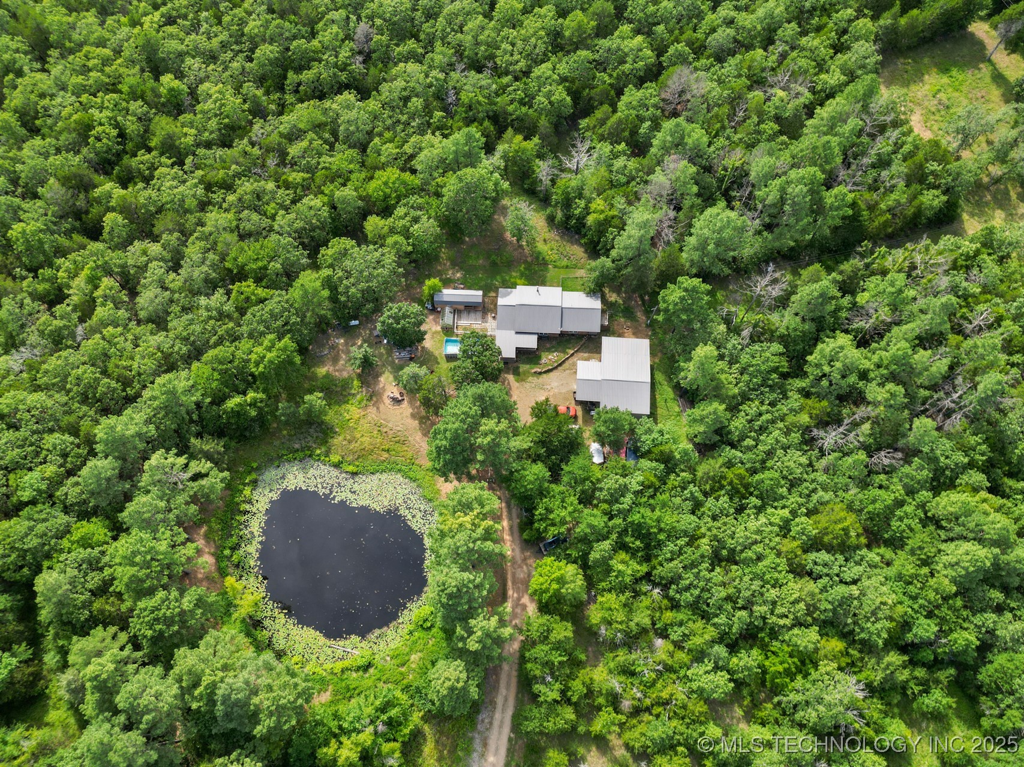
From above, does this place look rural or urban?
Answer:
rural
